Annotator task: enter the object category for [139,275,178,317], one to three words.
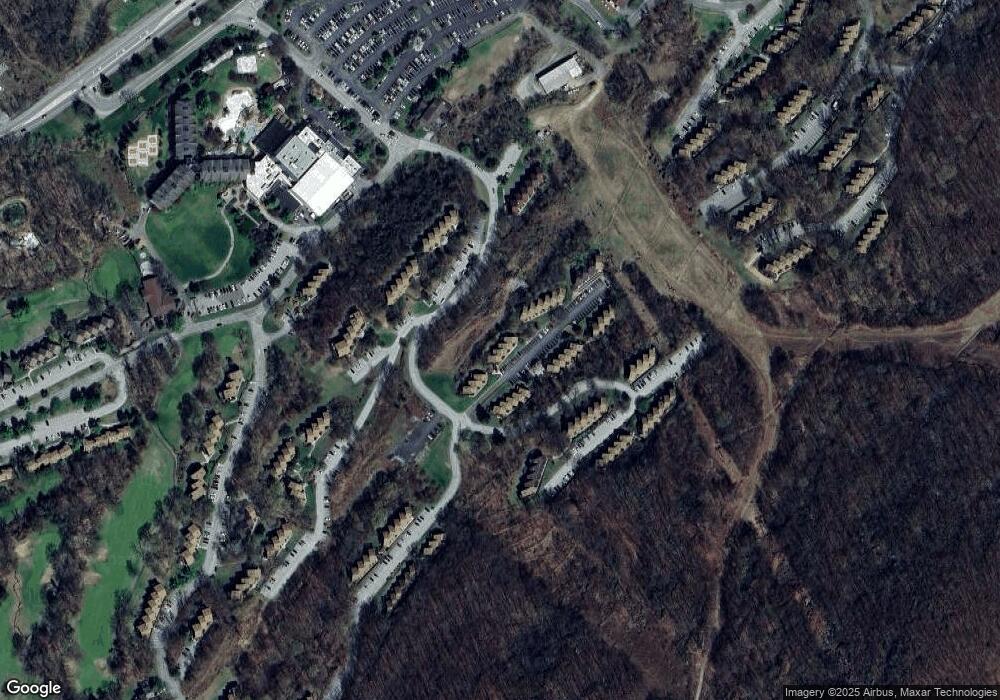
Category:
building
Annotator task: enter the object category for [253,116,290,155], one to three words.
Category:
building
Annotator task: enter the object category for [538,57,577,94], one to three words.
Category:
shed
